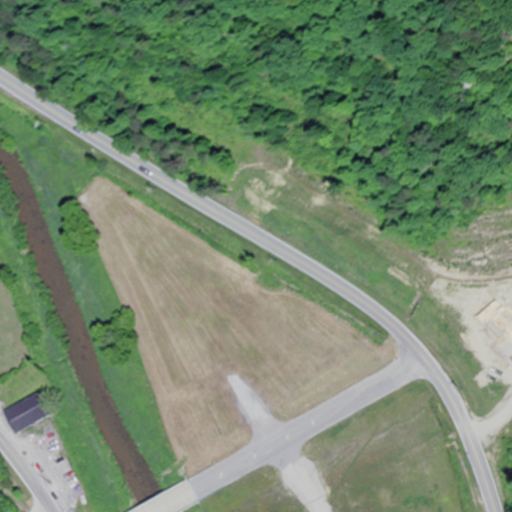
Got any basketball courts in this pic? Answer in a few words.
No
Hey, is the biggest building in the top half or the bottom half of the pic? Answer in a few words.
bottom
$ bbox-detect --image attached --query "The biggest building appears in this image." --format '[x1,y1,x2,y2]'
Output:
[3,388,54,432]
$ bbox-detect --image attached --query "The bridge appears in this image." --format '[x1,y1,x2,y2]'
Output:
[130,478,200,512]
